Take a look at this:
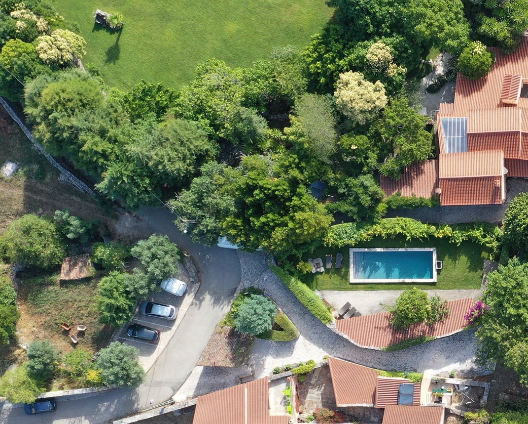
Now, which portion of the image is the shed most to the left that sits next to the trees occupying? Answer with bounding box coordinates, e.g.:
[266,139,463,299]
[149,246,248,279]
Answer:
[61,253,101,279]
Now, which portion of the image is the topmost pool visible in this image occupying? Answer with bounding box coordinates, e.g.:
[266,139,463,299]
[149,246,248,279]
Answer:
[350,248,442,284]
